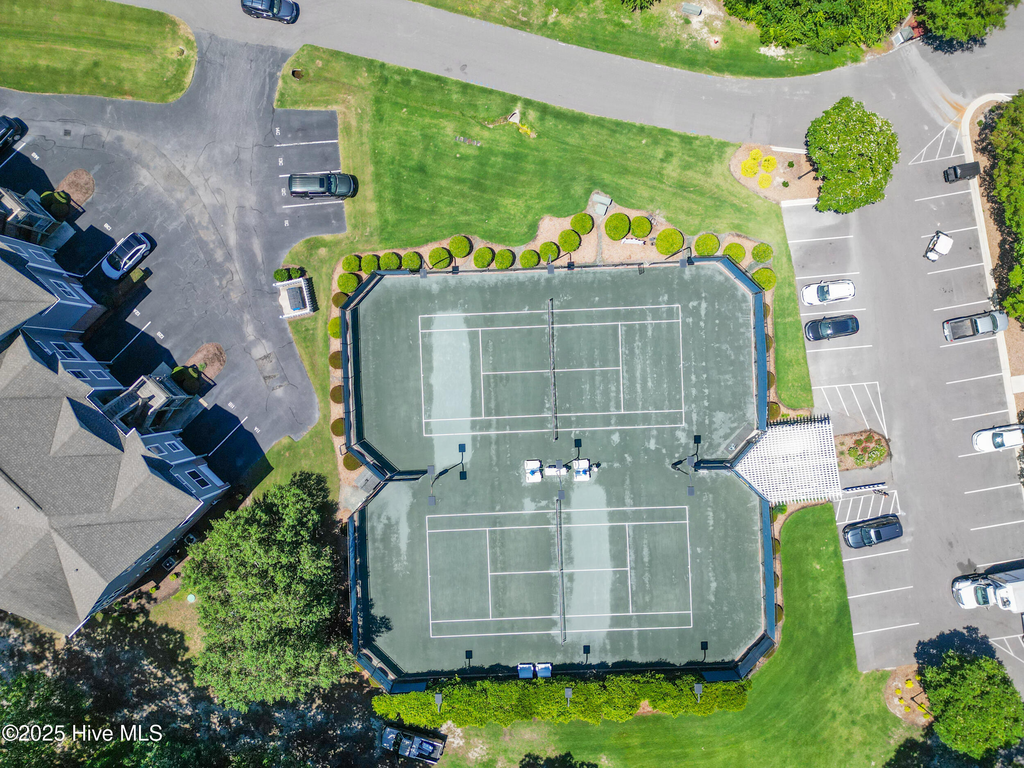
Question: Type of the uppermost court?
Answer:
tennis court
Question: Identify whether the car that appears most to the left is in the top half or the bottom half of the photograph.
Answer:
top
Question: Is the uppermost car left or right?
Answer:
left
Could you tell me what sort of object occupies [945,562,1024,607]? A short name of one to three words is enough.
camper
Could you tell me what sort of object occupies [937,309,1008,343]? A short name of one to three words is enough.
truck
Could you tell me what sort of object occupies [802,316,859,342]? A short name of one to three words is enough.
car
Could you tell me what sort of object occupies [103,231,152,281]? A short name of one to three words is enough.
car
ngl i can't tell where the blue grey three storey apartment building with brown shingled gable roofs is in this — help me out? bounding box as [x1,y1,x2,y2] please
[0,175,227,638]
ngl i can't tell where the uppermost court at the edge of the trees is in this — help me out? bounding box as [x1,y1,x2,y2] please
[347,261,759,477]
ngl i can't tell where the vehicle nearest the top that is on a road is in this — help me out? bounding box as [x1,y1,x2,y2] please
[238,0,296,25]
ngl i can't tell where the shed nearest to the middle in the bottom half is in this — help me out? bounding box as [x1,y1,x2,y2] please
[354,467,381,493]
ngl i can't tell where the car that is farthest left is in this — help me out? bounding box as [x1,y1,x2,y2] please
[0,114,29,165]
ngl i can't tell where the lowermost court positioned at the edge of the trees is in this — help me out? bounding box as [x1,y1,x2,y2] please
[353,464,766,681]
